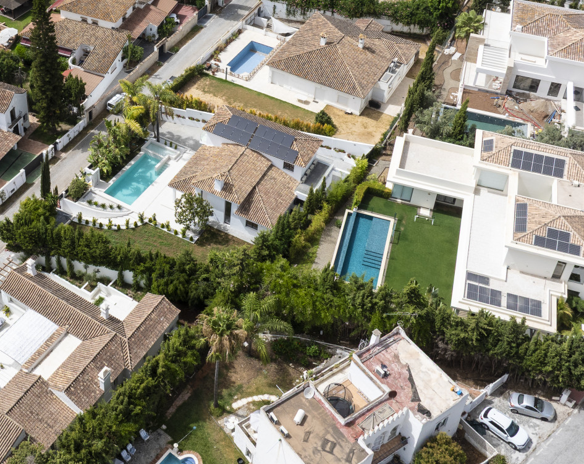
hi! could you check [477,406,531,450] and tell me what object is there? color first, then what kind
white car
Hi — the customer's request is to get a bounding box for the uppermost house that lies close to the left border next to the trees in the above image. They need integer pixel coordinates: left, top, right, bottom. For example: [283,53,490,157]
[20,0,177,100]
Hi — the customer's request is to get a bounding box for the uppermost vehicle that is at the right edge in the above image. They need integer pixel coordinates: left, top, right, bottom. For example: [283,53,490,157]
[508,390,557,426]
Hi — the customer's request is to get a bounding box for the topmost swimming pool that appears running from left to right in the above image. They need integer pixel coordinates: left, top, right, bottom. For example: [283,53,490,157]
[425,99,532,139]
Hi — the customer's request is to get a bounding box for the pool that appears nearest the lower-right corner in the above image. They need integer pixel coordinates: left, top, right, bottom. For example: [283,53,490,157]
[326,205,397,293]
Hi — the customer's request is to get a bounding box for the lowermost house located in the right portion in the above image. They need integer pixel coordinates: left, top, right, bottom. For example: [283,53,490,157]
[233,322,468,464]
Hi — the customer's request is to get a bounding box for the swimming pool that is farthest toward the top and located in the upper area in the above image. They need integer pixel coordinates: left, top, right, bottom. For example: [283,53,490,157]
[225,38,277,75]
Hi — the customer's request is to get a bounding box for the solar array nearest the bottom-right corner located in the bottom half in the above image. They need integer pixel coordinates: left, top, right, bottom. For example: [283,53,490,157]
[508,292,543,317]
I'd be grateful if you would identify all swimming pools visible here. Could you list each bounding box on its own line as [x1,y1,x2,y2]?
[98,148,174,208]
[152,444,200,464]
[425,99,532,139]
[225,38,277,75]
[140,137,184,160]
[326,205,397,293]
